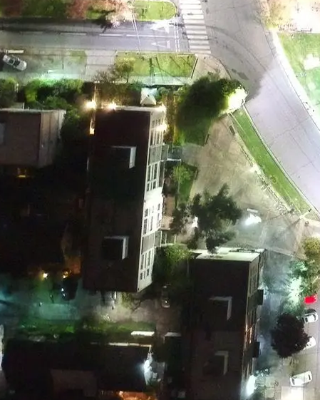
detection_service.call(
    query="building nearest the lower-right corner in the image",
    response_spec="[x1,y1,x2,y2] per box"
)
[185,250,262,400]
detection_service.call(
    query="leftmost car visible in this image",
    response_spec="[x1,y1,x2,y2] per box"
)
[2,53,25,69]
